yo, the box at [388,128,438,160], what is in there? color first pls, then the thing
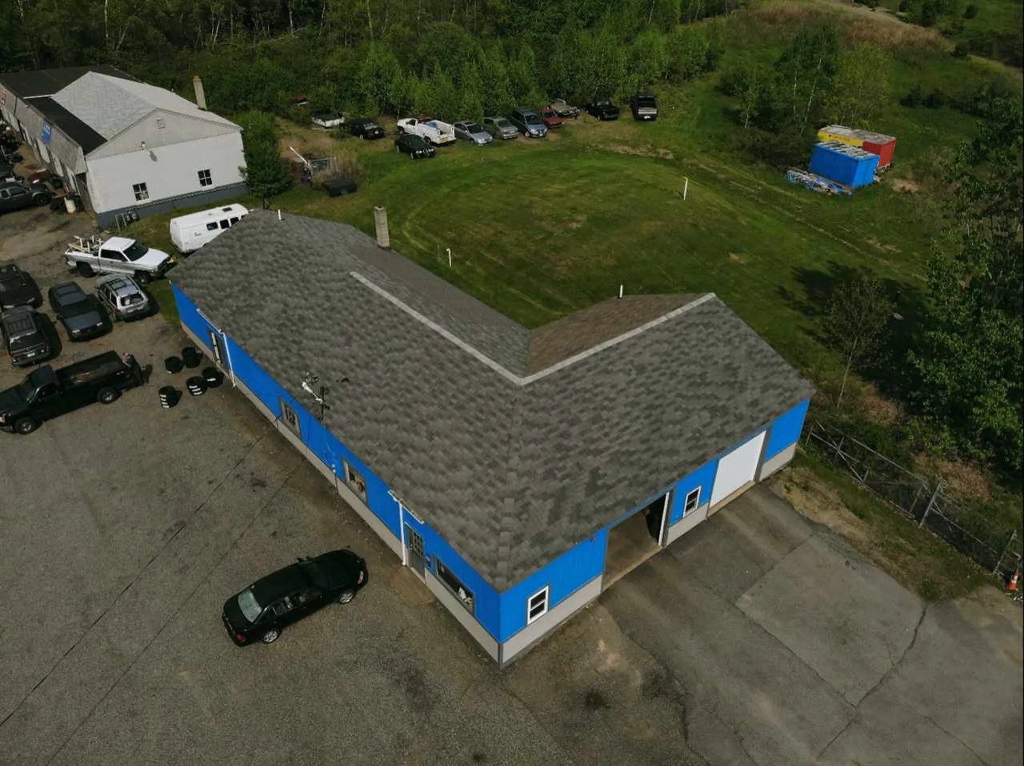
black car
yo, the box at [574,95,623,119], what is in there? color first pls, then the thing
black truck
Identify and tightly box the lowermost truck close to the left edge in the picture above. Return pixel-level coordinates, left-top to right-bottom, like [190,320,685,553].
[0,359,129,436]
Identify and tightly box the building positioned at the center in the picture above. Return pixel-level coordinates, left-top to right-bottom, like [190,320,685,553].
[168,209,816,667]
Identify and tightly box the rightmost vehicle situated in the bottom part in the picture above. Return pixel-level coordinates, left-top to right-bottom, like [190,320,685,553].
[219,549,371,650]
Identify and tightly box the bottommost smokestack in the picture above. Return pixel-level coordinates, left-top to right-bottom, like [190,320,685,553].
[375,205,390,245]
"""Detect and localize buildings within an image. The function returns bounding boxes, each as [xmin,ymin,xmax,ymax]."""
[168,209,816,667]
[0,59,252,225]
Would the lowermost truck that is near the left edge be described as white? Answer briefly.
No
